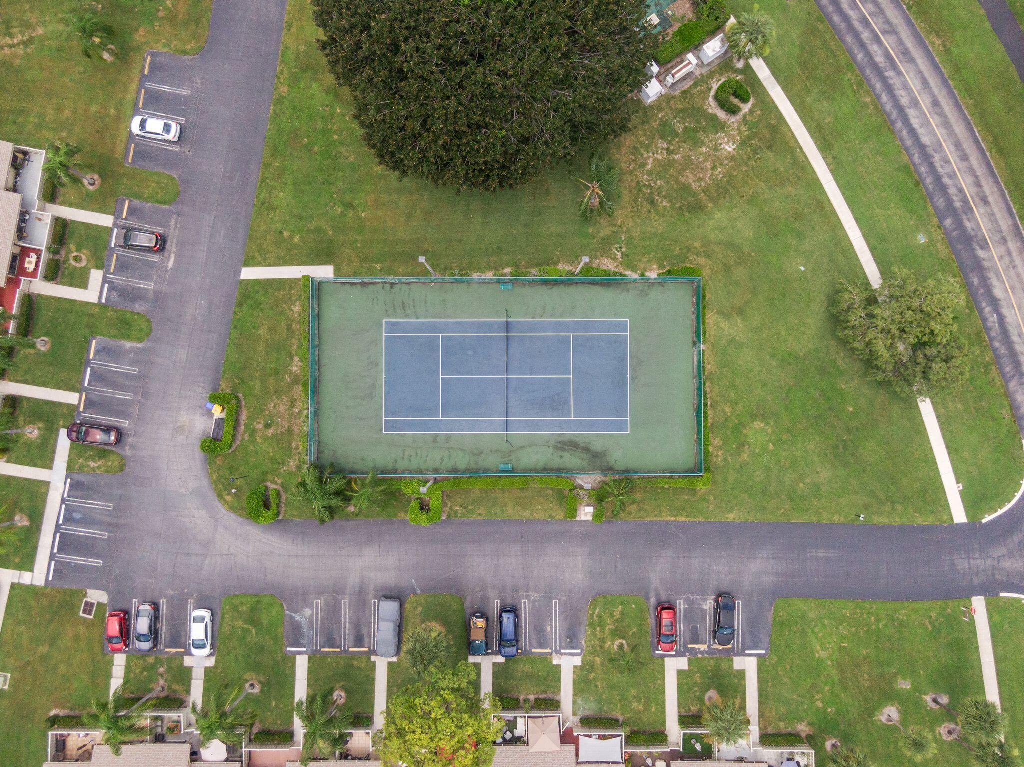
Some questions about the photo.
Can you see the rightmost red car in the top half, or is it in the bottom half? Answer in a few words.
bottom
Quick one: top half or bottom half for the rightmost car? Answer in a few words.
bottom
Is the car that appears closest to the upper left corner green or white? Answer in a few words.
white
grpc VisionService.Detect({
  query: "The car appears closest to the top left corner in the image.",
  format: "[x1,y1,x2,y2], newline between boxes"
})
[131,114,181,142]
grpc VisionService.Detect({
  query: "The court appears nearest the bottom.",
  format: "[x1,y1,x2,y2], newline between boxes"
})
[318,283,696,473]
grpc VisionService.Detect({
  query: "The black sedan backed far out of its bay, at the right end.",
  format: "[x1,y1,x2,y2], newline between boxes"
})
[713,594,737,645]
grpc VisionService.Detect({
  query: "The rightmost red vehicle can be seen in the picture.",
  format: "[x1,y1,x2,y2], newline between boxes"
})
[656,603,680,651]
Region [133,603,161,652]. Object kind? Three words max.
car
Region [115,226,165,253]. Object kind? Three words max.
car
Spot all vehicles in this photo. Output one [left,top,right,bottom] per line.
[188,609,215,657]
[115,226,165,253]
[496,606,521,656]
[713,594,737,645]
[133,603,161,652]
[469,615,488,655]
[131,114,181,142]
[105,612,132,652]
[67,422,122,447]
[656,603,680,651]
